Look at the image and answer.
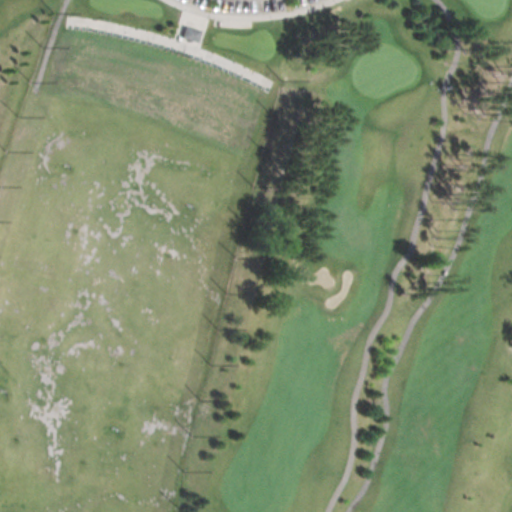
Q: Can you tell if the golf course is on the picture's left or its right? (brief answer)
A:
right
